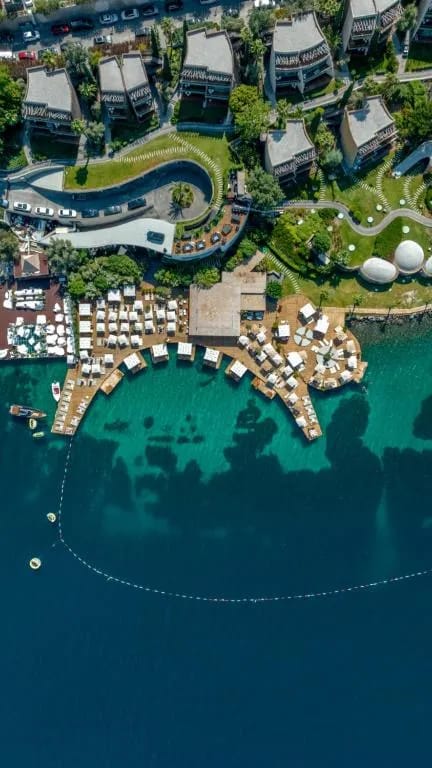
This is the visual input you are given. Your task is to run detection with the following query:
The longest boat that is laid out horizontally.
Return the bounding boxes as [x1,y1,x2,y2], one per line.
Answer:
[9,406,49,418]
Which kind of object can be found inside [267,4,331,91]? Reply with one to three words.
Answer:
building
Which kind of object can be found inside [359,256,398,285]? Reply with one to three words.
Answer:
tent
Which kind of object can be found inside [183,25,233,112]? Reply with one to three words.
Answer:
building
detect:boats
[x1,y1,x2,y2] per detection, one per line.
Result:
[46,513,56,521]
[9,406,49,418]
[52,380,62,401]
[33,431,45,437]
[29,418,37,429]
[30,558,40,568]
